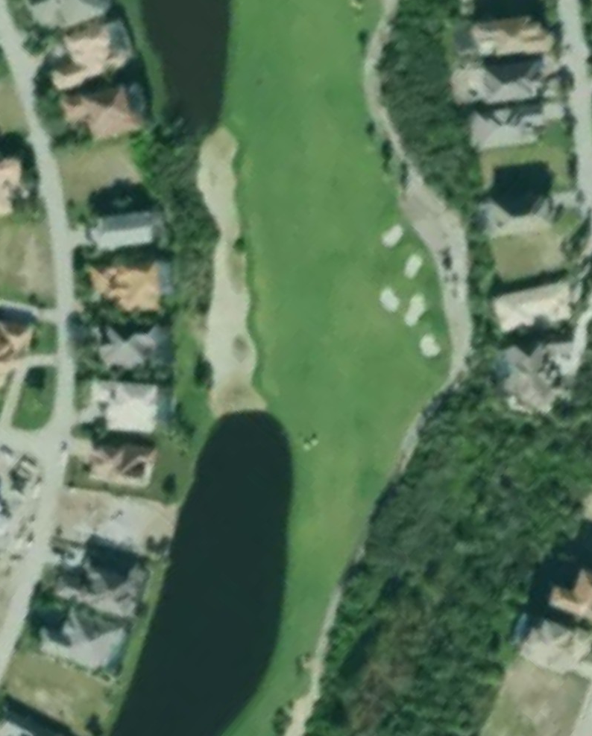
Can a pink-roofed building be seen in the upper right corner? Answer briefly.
No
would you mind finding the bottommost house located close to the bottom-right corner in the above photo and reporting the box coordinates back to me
[516,613,592,682]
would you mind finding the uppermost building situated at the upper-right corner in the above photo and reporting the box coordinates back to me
[477,17,557,62]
